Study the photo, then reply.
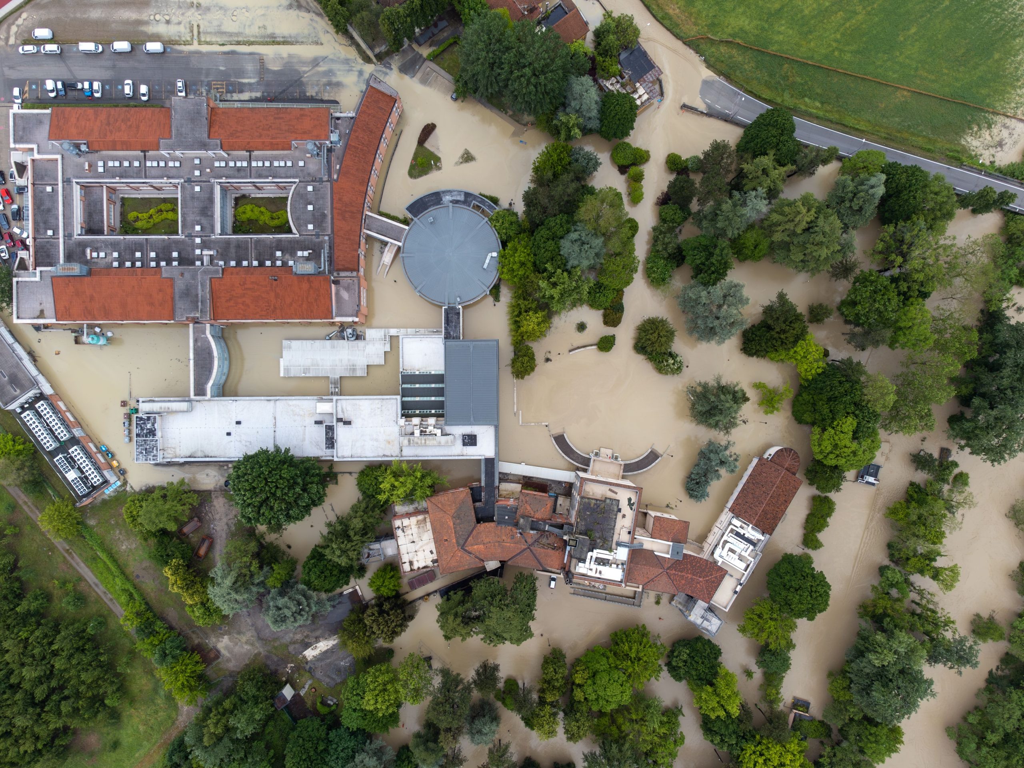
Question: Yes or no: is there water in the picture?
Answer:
Yes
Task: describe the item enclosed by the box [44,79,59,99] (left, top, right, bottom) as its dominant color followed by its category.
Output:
white car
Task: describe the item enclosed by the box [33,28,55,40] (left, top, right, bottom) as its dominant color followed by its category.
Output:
white vehicle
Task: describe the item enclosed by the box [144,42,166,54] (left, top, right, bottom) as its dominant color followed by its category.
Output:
white vehicle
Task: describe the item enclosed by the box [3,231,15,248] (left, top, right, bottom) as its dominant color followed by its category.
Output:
red vehicle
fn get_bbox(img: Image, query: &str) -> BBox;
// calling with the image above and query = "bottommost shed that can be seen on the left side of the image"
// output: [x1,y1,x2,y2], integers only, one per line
[276,678,299,709]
